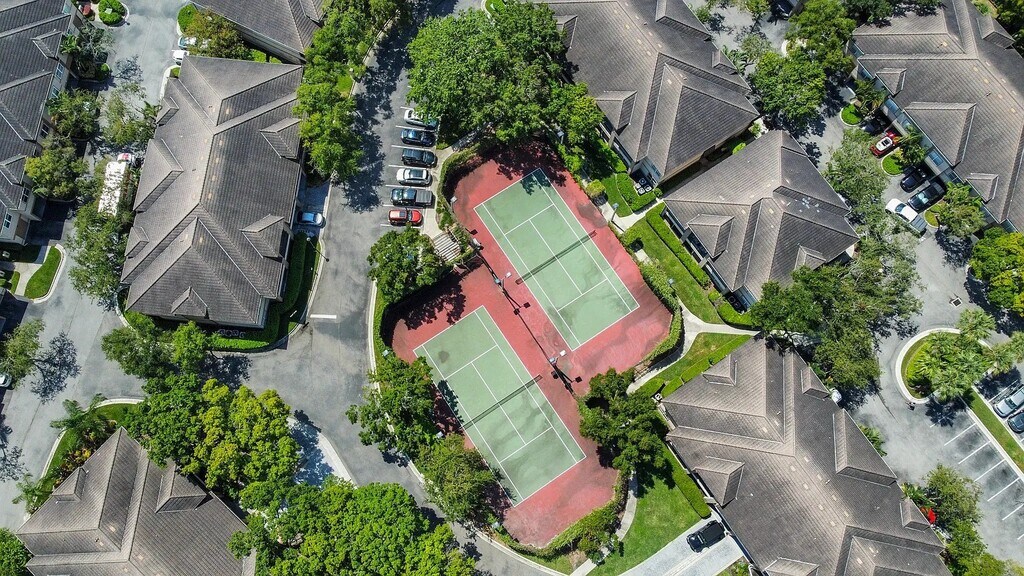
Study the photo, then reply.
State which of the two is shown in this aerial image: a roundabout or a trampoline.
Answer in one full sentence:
The image shows a roundabout.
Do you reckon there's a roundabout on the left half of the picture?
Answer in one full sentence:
No, I see no roundabout on the left half of the picture.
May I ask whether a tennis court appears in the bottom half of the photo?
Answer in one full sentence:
Yes, there is a tennis court in the bottom half of the photo.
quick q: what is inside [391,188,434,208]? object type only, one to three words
vehicle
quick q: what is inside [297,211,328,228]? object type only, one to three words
car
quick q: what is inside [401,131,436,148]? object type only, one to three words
car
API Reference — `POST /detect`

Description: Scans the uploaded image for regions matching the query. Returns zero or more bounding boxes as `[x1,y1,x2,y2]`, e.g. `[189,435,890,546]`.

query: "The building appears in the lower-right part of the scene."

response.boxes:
[659,335,950,576]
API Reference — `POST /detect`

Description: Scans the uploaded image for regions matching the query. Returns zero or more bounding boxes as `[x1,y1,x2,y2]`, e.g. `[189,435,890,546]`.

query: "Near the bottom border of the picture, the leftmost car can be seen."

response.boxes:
[685,523,726,551]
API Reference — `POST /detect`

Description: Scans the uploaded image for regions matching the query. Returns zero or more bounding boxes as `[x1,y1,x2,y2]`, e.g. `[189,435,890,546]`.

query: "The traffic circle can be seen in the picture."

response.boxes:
[895,328,997,406]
